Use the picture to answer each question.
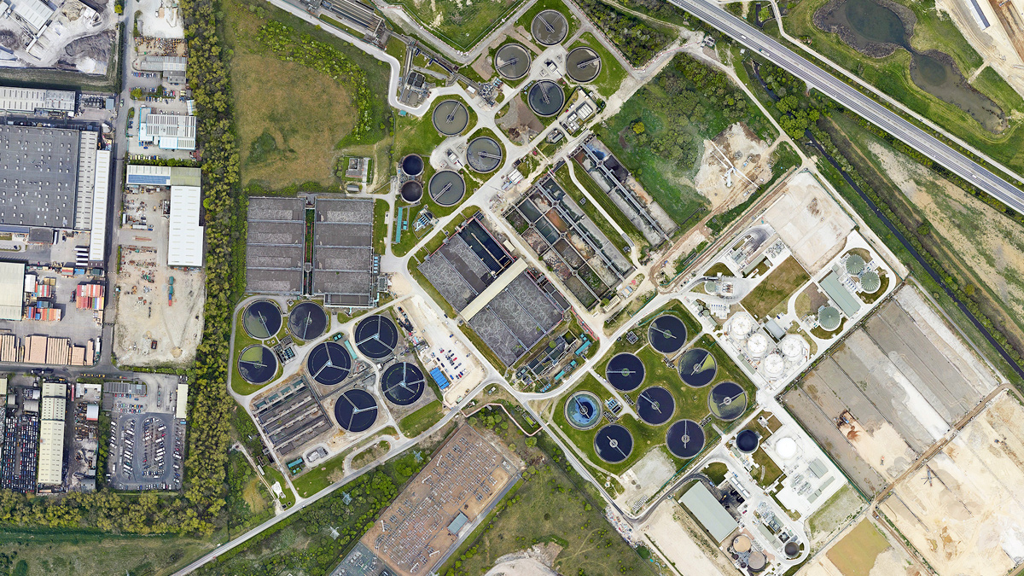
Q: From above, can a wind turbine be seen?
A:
Yes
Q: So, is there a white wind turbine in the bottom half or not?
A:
No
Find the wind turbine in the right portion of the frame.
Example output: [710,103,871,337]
[718,144,758,189]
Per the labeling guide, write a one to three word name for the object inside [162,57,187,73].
building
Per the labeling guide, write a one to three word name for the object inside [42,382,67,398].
building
